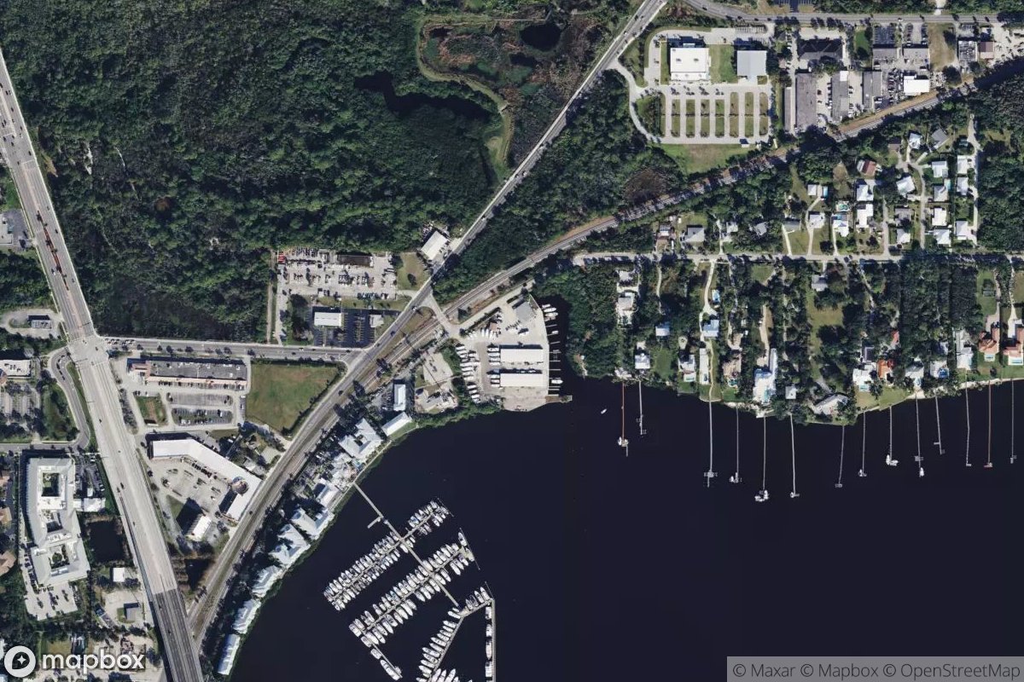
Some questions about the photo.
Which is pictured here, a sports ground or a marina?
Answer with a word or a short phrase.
marina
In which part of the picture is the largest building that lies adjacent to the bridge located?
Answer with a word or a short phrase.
bottom left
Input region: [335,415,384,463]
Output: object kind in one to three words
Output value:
building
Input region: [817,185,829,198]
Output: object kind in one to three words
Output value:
swimming pool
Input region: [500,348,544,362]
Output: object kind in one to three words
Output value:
shed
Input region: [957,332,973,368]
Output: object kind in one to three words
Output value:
house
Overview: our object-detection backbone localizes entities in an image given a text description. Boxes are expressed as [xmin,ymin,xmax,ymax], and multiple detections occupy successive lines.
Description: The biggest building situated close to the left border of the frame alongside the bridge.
[28,457,89,585]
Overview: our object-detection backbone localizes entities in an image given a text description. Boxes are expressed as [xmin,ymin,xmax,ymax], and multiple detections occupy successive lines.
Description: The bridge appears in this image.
[104,460,202,682]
